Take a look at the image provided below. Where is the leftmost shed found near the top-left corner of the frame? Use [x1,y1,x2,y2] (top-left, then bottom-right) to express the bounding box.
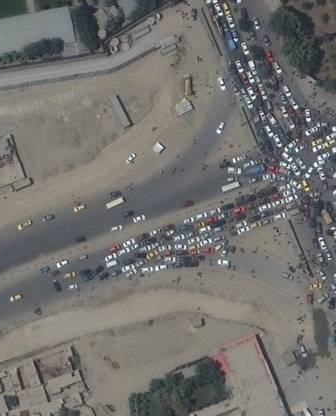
[0,7,74,56]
